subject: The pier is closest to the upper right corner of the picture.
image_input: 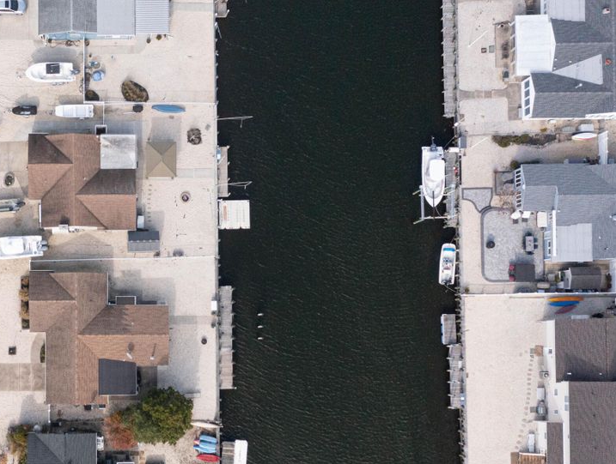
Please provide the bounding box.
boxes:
[438,0,456,117]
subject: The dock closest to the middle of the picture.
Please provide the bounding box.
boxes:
[218,199,249,229]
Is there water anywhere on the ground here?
Yes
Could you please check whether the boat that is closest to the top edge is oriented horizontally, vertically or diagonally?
horizontally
